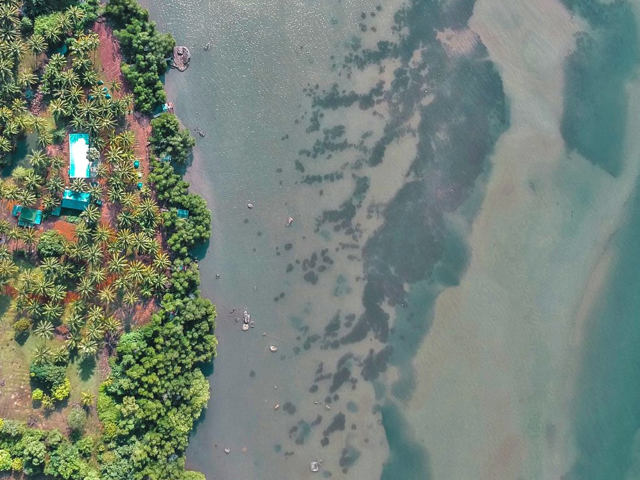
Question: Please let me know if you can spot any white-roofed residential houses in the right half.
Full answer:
No, in the right half there is no white-roofed residential house.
